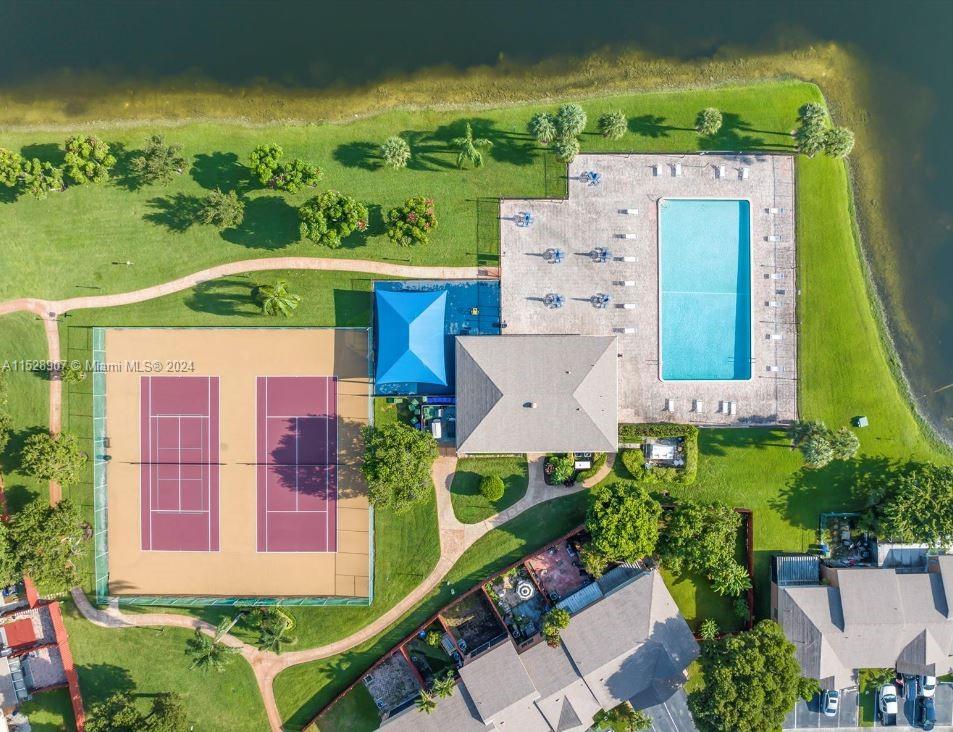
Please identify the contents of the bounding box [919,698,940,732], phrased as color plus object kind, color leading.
blue car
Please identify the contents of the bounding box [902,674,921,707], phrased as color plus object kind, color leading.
blue car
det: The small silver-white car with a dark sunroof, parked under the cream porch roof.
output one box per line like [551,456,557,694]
[823,691,842,721]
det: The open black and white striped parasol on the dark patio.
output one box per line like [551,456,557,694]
[517,582,533,599]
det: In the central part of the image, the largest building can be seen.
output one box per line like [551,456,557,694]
[454,335,619,454]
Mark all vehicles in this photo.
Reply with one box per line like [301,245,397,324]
[920,676,940,699]
[823,691,842,721]
[902,674,921,707]
[919,698,940,732]
[879,686,901,730]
